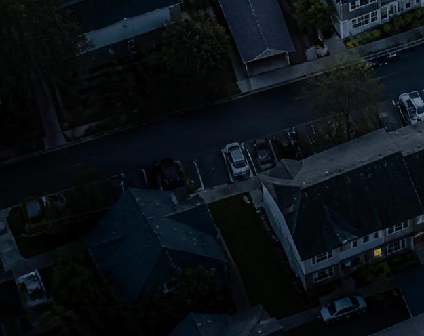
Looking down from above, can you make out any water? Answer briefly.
No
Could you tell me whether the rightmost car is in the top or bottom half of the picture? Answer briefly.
top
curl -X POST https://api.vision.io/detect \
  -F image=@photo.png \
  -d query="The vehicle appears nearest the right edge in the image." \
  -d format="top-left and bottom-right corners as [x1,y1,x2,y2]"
[401,91,424,124]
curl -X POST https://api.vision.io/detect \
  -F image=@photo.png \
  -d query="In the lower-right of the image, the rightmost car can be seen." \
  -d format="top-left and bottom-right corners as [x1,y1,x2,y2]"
[319,295,368,324]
